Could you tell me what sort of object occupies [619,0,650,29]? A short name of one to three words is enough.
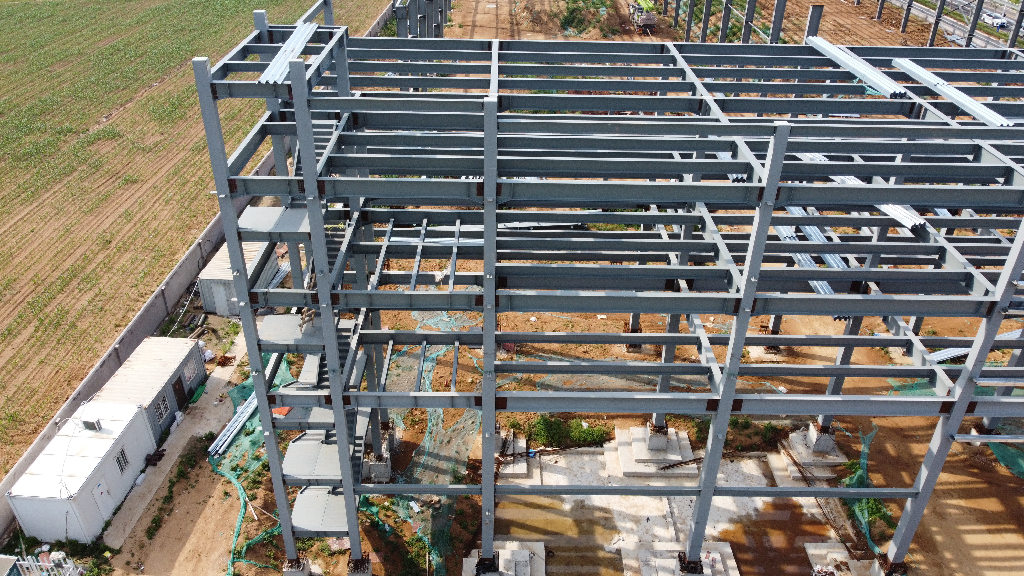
truck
